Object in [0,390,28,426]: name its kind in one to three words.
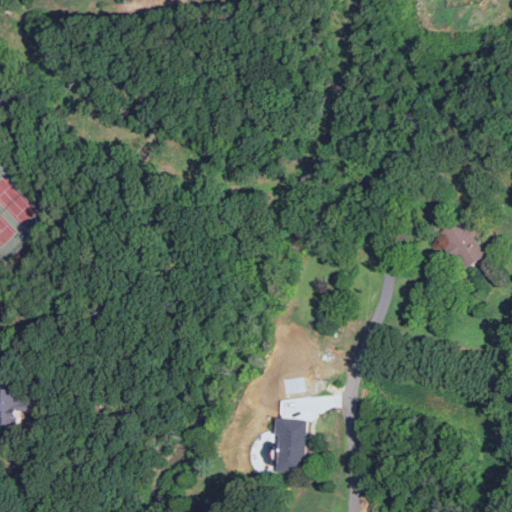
house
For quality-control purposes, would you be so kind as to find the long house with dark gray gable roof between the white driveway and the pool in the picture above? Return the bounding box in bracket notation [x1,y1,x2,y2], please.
[274,419,306,474]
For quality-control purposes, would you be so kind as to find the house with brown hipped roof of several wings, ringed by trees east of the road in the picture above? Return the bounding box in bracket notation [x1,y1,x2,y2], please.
[440,224,482,267]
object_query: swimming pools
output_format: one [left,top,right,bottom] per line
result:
[260,442,275,465]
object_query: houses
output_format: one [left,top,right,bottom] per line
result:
[440,224,482,267]
[274,419,306,474]
[0,390,28,426]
